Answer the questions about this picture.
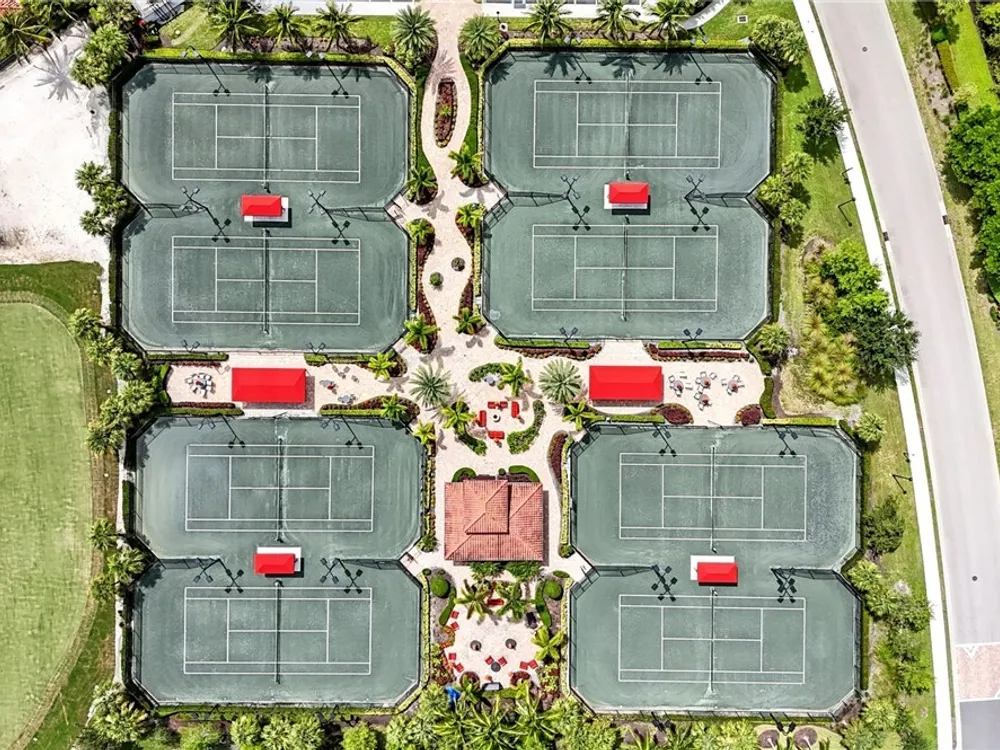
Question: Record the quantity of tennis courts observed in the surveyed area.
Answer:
8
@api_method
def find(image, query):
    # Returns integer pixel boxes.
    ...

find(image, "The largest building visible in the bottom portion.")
[444,479,544,562]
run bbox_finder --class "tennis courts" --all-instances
[485,53,770,197]
[123,207,407,352]
[484,192,769,341]
[135,560,421,706]
[123,64,407,208]
[572,425,855,569]
[571,564,854,713]
[137,419,421,562]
